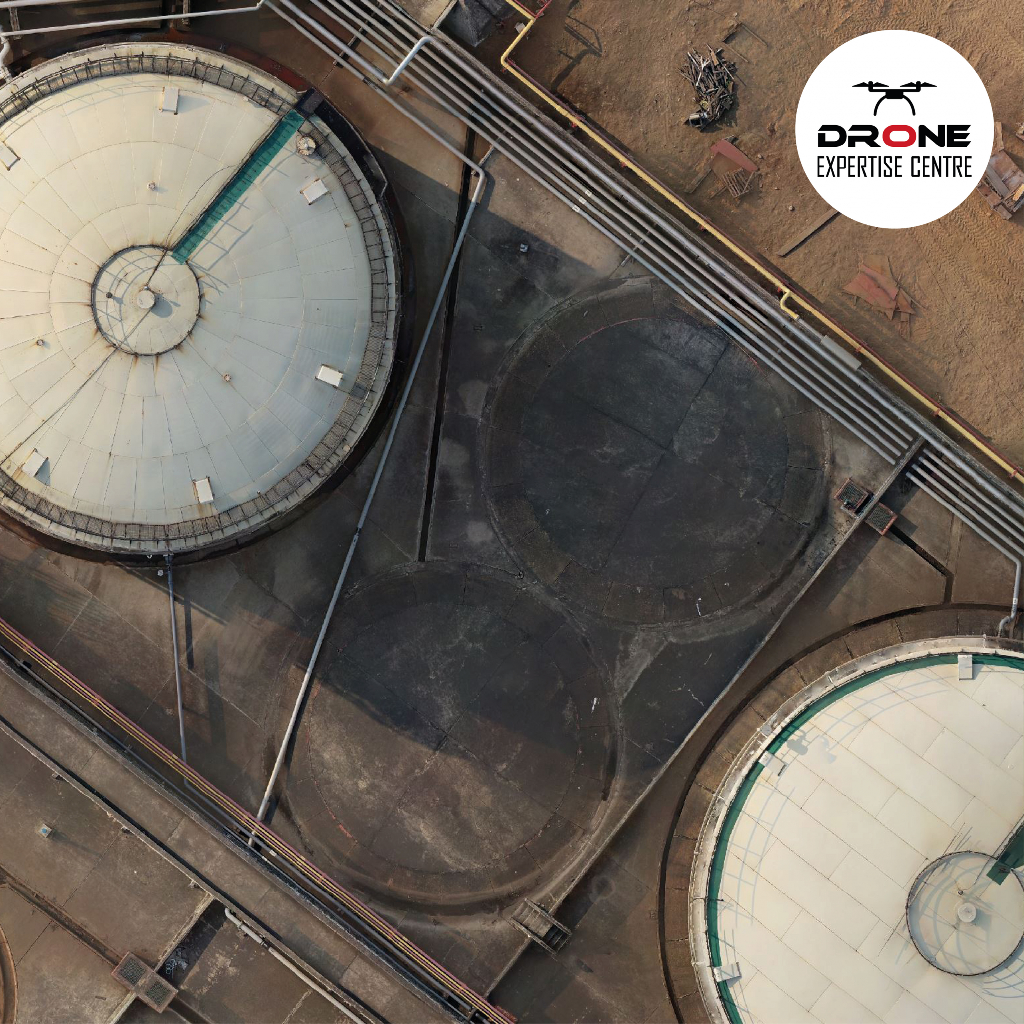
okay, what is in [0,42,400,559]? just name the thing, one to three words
storage tank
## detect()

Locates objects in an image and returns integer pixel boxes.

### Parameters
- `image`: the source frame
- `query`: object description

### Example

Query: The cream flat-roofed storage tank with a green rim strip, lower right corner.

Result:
[688,634,1024,1024]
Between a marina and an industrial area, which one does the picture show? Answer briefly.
industrial area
